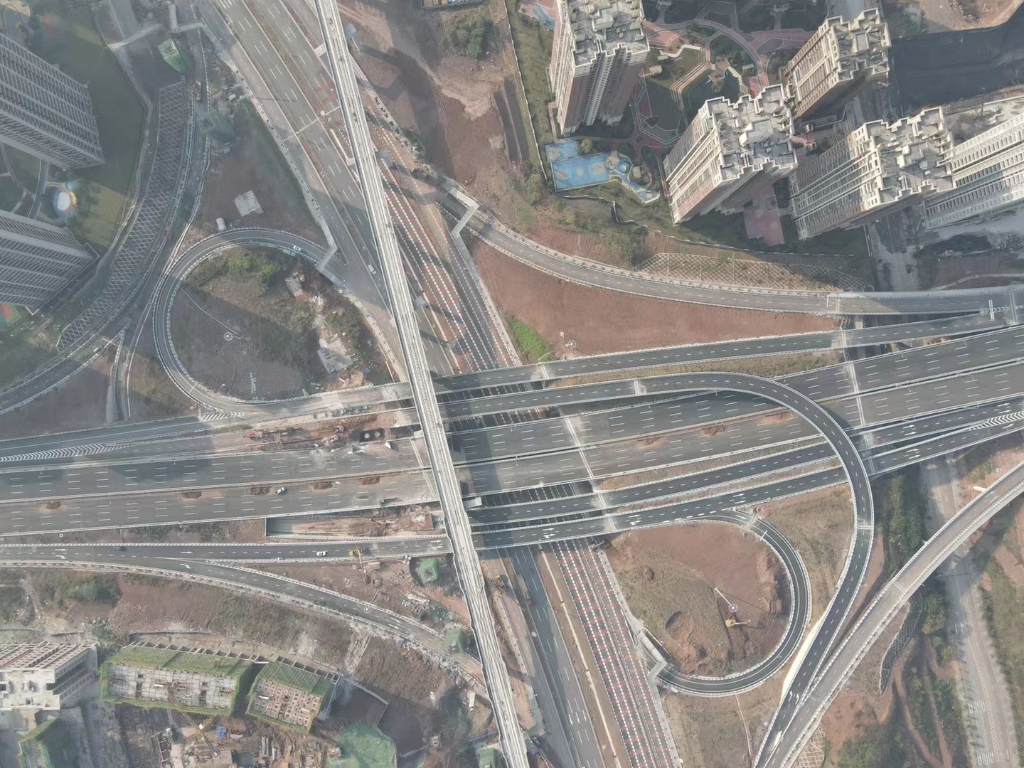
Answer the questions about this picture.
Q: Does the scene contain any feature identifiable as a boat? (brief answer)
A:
No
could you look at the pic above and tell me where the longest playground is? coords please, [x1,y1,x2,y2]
[546,141,661,204]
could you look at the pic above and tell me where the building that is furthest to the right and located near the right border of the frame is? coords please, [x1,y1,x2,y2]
[919,107,1024,231]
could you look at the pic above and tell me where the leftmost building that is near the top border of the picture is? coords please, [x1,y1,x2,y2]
[0,22,106,178]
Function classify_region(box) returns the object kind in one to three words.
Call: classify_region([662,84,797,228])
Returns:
building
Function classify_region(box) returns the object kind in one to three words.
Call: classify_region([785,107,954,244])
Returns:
building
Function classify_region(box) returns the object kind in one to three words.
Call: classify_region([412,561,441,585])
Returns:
shed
